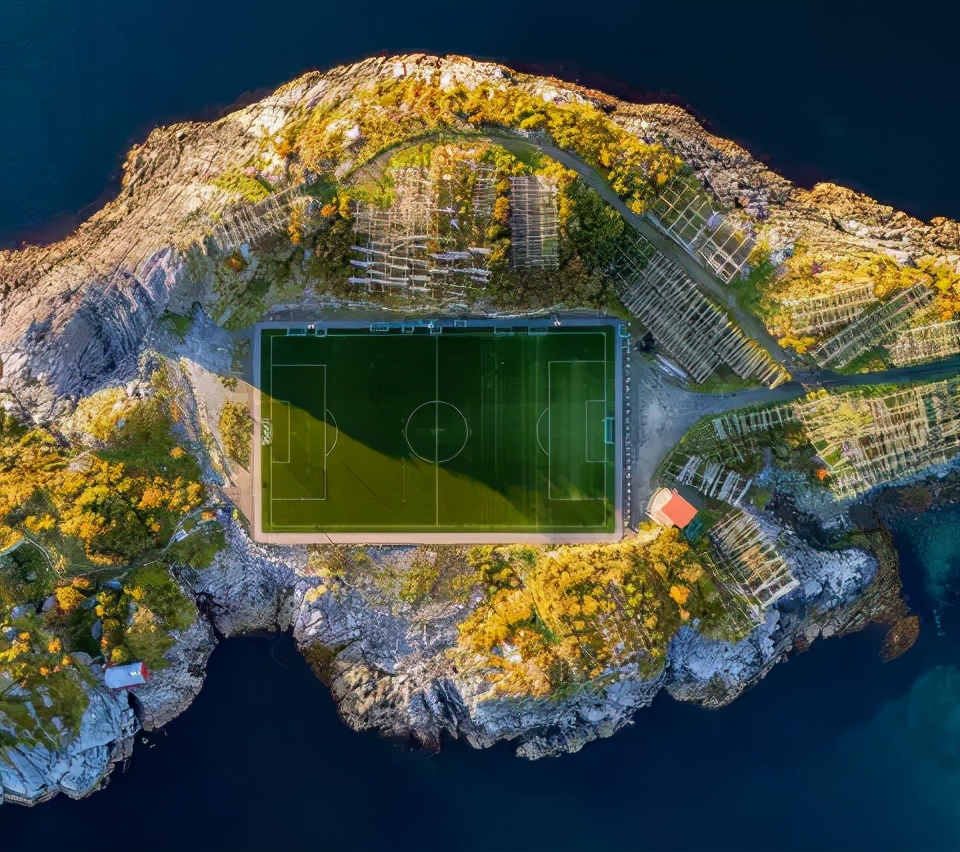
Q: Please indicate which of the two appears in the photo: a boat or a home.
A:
home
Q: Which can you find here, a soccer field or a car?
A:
soccer field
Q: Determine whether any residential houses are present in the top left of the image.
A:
No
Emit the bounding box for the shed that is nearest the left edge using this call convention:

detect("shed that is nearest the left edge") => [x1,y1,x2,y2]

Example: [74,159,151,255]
[106,660,153,688]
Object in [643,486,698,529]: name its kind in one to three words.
house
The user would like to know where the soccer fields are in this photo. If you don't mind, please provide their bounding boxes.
[254,319,623,543]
